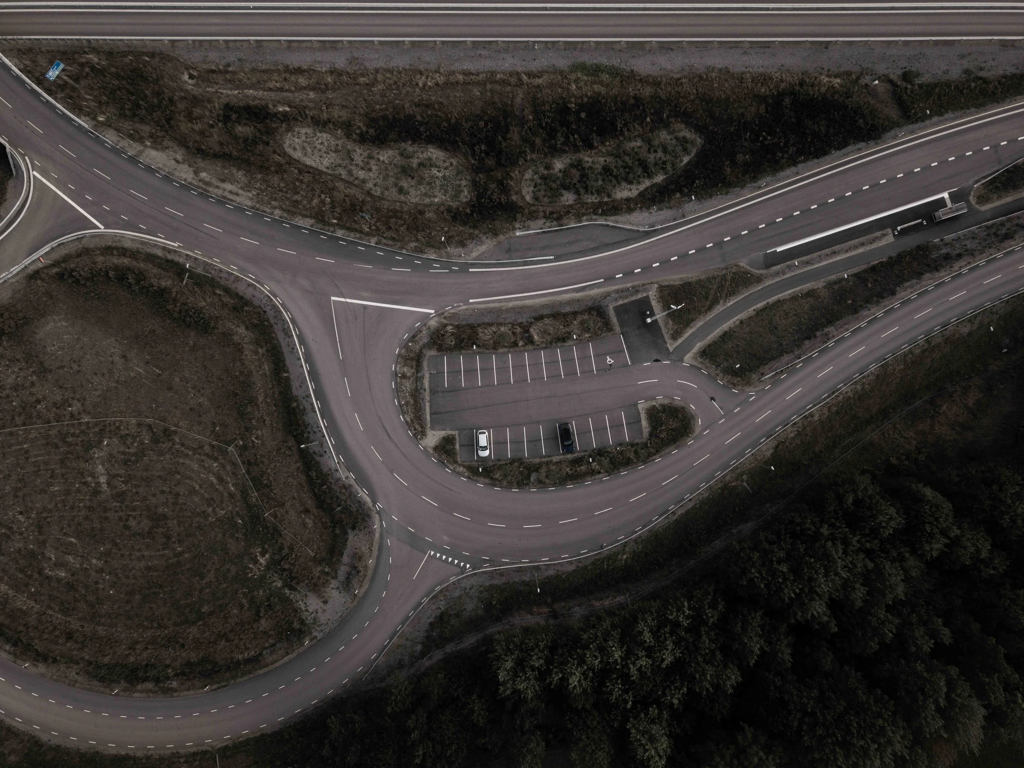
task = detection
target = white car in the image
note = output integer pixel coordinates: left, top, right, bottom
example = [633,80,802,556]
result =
[477,430,490,457]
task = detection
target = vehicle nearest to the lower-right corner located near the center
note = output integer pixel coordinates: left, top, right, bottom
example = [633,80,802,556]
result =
[559,423,575,452]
